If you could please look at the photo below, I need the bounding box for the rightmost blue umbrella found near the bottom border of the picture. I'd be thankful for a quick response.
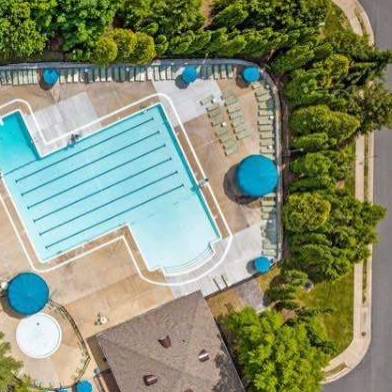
[74,378,92,392]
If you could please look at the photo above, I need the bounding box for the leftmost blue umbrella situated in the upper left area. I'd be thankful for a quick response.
[41,68,58,85]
